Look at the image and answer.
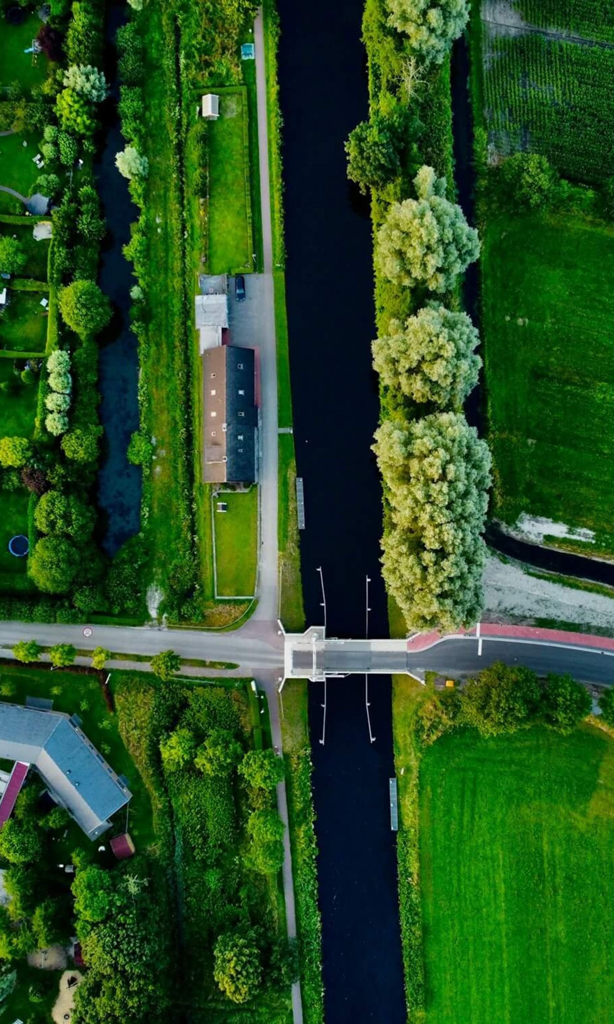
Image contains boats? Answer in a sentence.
No, this view has no boat in it.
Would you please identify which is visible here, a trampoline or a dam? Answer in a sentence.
It is a trampoline that can be seen here.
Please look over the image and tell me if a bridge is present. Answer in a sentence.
Yes, there's a bridge down there.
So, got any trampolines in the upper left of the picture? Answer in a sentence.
Yes, a trampoline can be seen in the upper left of the picture.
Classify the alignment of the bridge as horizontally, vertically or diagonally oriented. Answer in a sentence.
The bridge has been laid out horizontally relative to the frame.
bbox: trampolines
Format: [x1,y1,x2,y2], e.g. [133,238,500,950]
[4,4,25,26]
[9,536,27,556]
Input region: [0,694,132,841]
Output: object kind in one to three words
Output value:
building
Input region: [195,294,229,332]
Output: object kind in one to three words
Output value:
building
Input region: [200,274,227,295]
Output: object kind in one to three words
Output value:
shed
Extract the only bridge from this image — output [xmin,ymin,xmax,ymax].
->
[277,618,426,693]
